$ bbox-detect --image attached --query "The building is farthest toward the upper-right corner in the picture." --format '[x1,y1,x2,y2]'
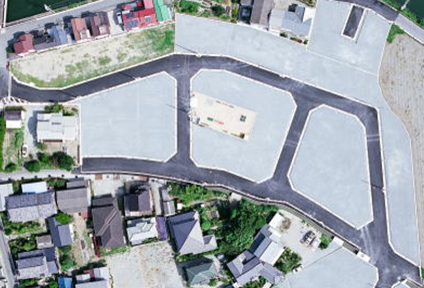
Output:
[270,7,312,36]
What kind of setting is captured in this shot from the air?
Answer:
residential area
